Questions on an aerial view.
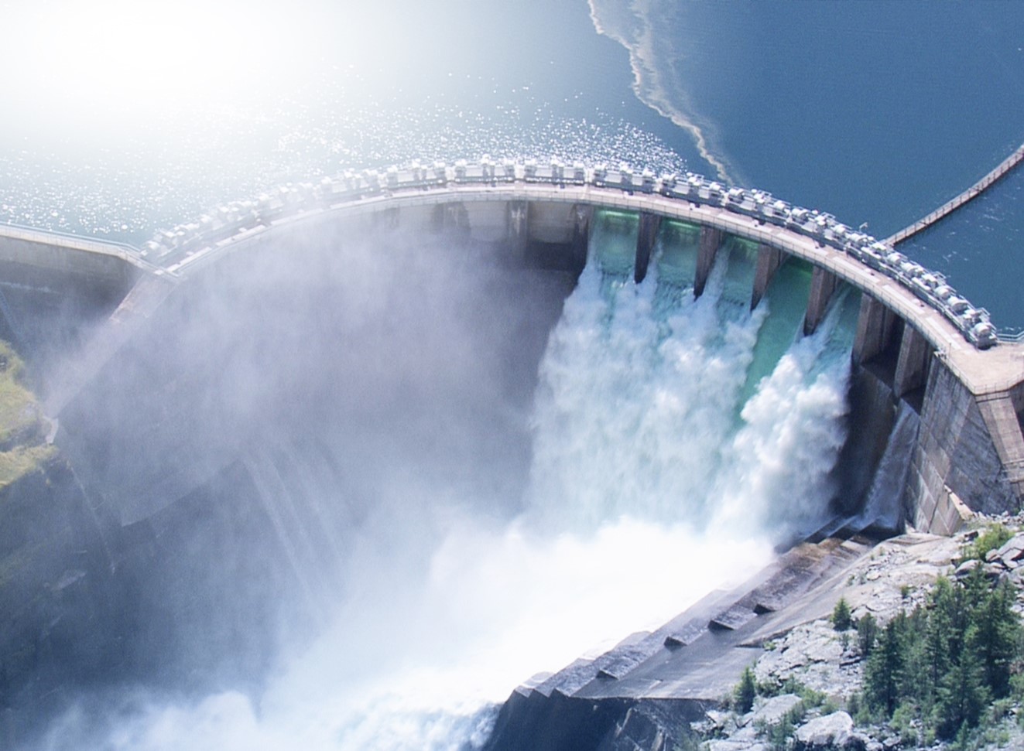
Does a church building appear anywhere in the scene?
No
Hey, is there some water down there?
Yes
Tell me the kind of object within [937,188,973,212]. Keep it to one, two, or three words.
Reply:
pier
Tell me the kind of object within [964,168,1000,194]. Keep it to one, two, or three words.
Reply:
pier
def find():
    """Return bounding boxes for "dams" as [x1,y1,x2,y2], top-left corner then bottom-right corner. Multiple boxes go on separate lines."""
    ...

[44,166,1024,581]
